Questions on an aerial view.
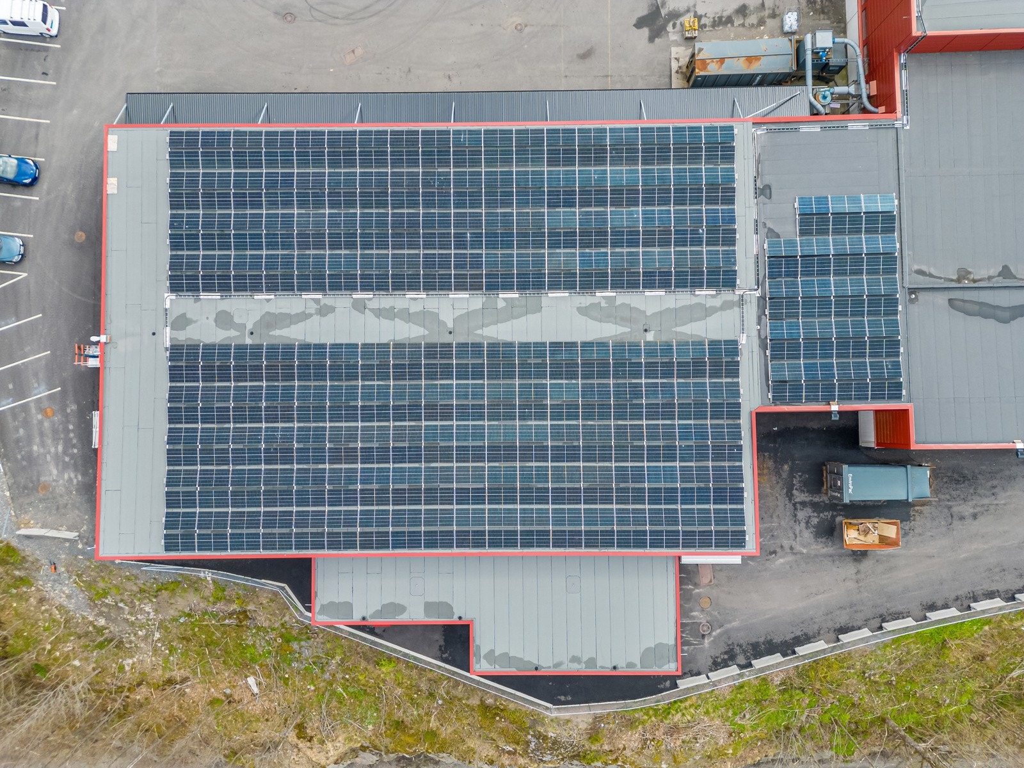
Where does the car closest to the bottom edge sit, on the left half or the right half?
left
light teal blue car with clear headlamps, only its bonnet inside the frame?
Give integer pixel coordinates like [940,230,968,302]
[0,234,27,265]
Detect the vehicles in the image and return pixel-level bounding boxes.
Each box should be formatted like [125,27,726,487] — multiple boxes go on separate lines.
[0,0,64,41]
[0,234,27,265]
[0,150,43,187]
